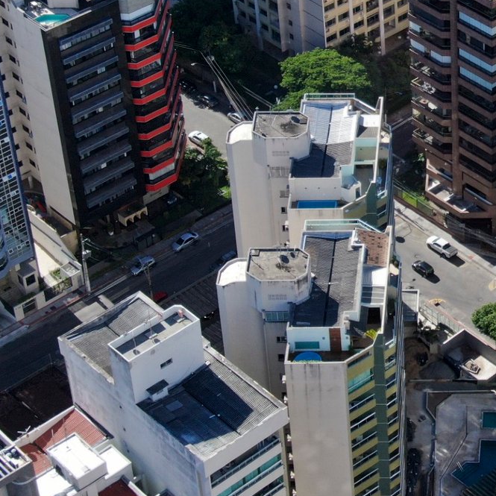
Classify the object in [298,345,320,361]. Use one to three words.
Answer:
swimming pool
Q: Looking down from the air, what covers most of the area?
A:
buildings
